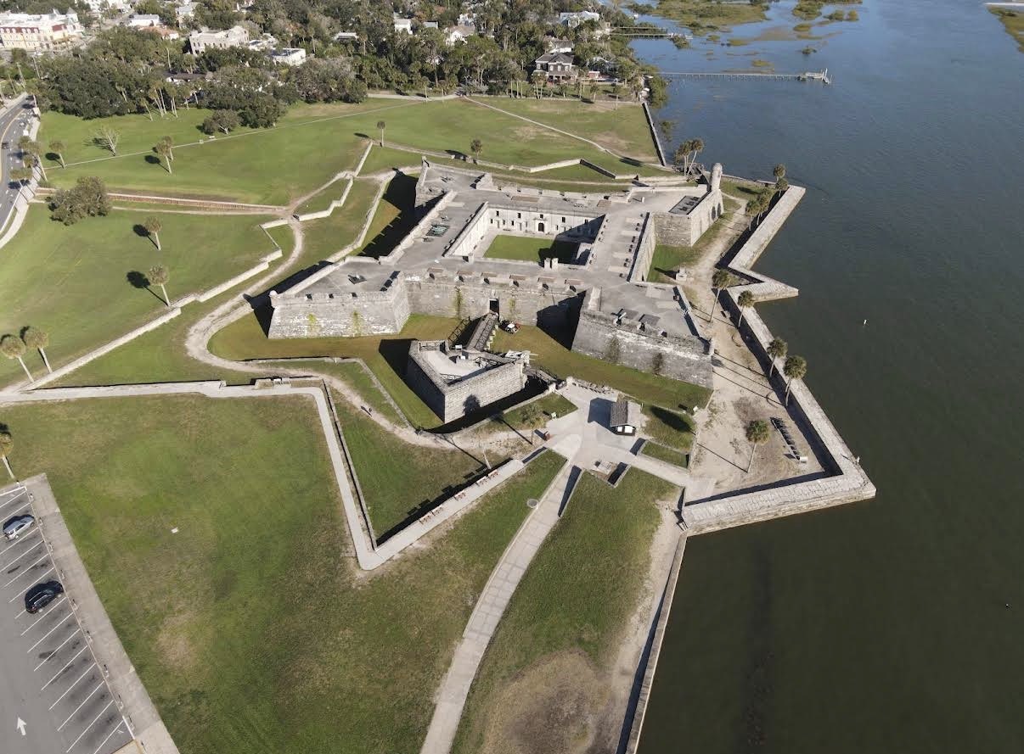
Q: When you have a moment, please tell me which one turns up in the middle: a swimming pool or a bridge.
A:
bridge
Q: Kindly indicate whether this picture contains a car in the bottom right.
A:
No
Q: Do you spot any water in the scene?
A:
Yes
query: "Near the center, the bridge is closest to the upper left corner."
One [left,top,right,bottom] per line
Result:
[469,304,503,356]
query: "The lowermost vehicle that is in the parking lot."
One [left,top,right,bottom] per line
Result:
[22,584,64,612]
